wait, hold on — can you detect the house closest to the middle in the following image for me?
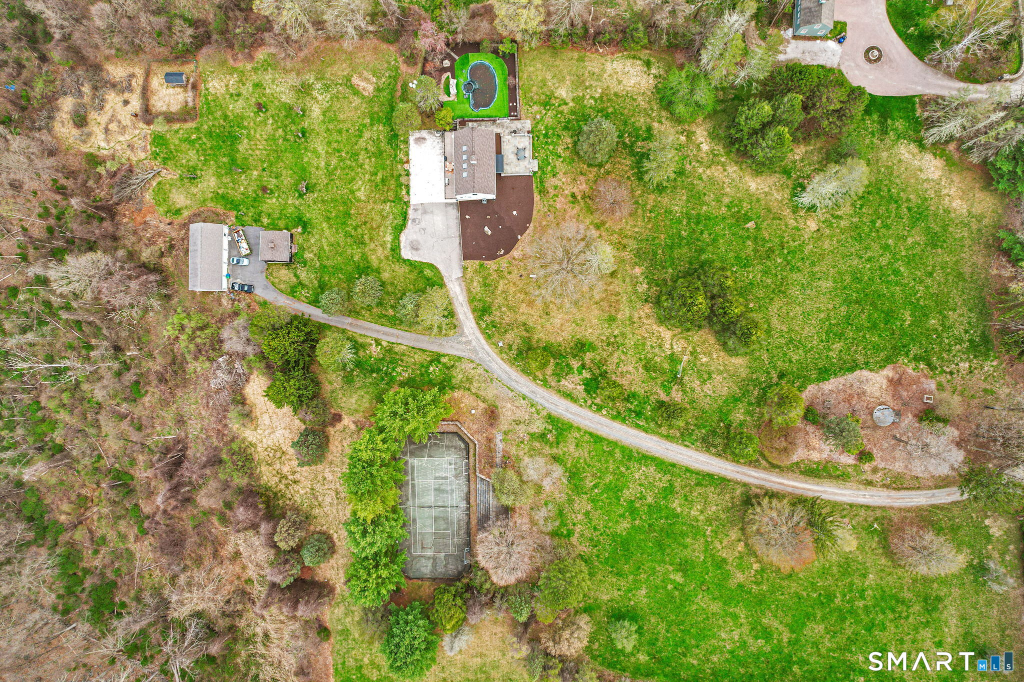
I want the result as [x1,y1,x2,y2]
[453,126,504,199]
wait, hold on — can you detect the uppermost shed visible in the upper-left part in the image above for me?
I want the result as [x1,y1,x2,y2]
[163,72,189,92]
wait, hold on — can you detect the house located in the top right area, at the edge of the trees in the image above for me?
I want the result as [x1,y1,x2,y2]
[790,0,834,37]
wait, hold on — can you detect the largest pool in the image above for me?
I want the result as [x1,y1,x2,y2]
[467,60,498,112]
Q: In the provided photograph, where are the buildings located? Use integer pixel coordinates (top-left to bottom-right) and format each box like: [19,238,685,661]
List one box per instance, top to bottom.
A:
[790,0,834,37]
[163,72,189,92]
[453,126,504,199]
[189,221,228,290]
[260,230,294,263]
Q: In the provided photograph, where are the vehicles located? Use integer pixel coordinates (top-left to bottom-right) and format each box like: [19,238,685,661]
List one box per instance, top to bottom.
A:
[229,256,249,266]
[229,282,254,292]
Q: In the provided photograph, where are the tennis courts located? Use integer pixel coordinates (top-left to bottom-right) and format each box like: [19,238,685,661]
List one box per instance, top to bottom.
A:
[397,433,470,580]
